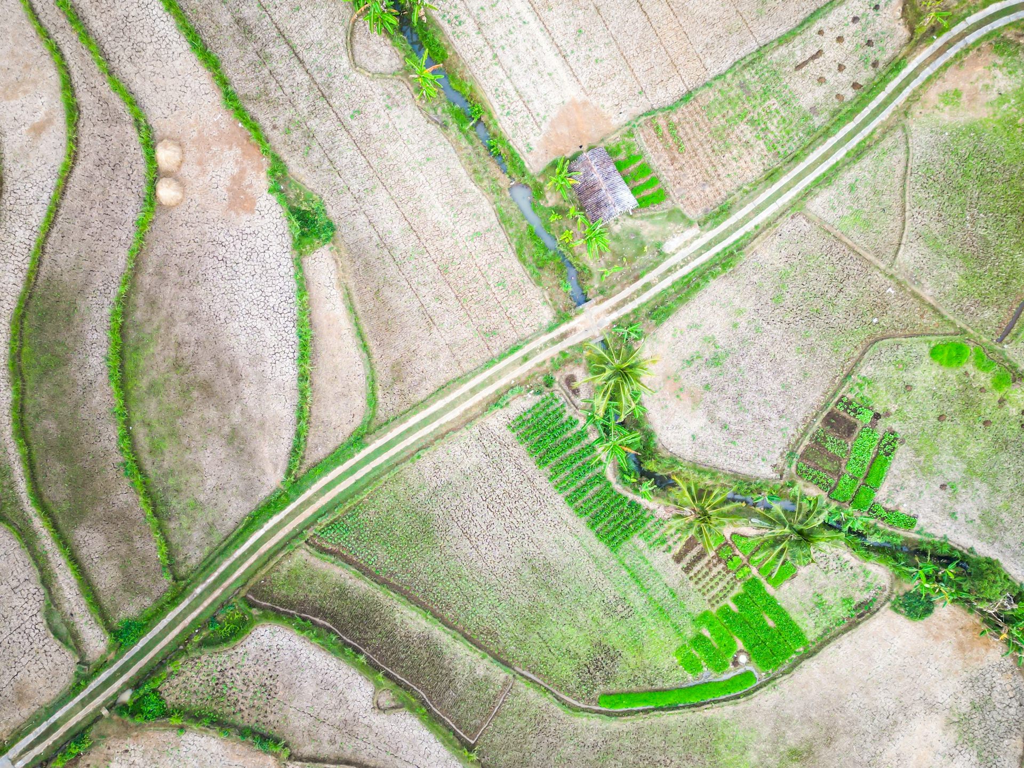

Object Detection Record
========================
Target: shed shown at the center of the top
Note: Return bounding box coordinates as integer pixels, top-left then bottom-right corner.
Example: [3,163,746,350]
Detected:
[565,146,636,227]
